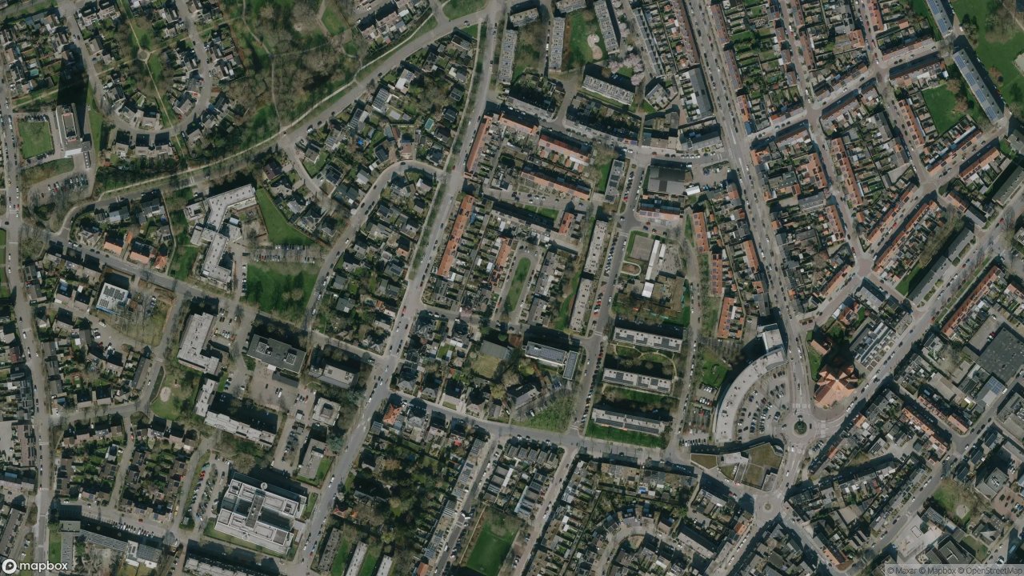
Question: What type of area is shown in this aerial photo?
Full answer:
This looks like a residential area.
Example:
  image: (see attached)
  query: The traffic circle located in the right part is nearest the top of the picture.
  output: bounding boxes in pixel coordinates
[784,416,815,446]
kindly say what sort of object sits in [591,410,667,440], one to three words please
building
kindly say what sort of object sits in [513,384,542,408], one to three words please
house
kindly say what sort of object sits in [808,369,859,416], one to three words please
building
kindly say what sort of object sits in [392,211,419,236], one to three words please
house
